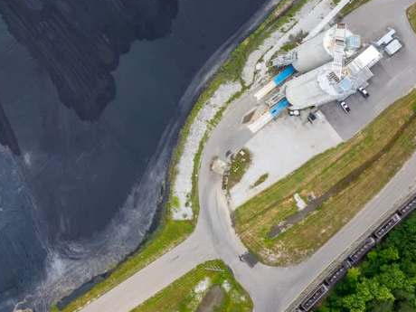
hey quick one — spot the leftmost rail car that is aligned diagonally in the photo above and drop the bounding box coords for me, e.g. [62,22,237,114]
[300,284,331,312]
